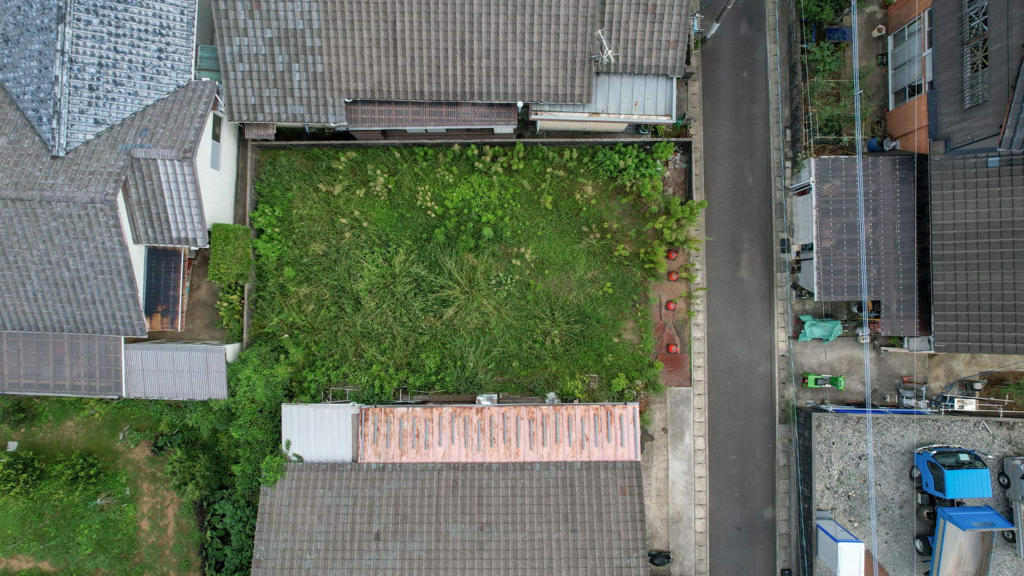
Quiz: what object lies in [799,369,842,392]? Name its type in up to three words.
work vehicle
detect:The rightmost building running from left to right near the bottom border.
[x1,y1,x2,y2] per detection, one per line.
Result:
[252,398,649,576]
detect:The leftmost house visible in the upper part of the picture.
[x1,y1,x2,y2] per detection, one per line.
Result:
[0,0,241,399]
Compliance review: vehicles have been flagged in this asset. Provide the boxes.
[648,549,681,572]
[910,440,1012,576]
[799,369,842,392]
[1000,455,1024,564]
